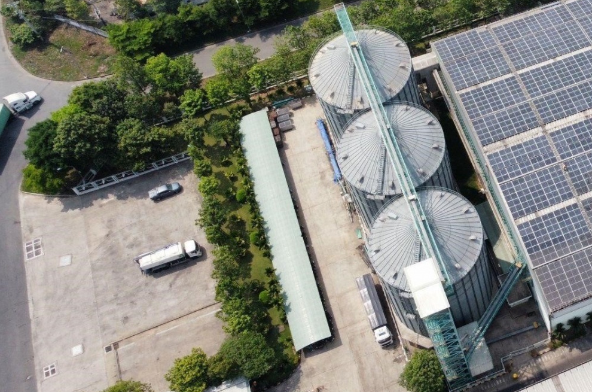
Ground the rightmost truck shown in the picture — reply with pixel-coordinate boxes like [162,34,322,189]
[354,273,388,340]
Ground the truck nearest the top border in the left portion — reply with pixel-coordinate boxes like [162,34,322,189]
[4,90,46,121]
